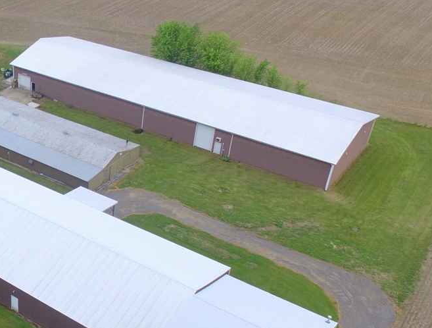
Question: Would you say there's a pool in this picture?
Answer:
No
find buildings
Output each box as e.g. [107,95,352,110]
[8,36,379,192]
[0,167,338,328]
[0,96,141,189]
